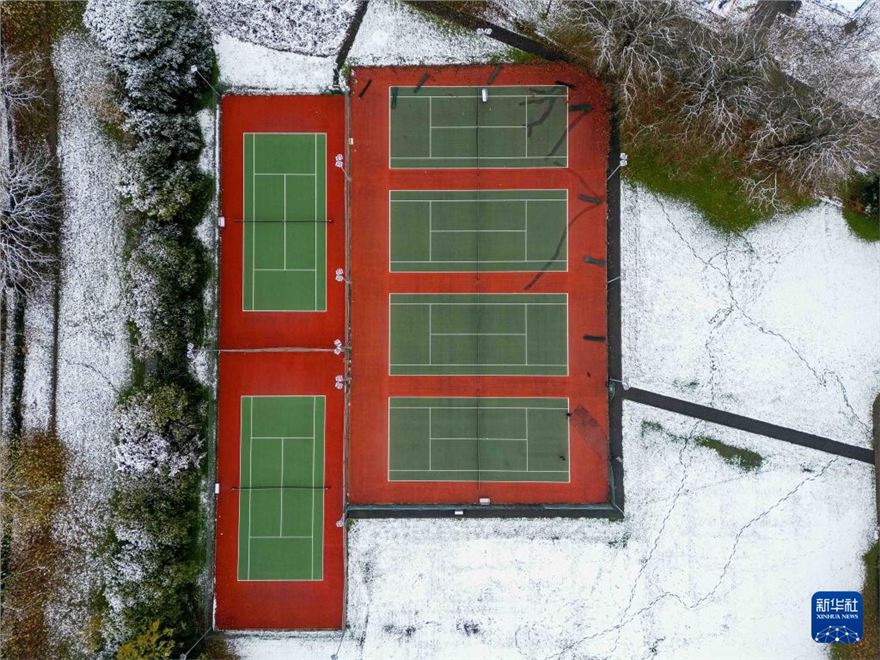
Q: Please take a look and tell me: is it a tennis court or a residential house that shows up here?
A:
tennis court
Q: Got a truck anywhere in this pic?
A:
No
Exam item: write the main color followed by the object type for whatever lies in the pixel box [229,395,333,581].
green tennis court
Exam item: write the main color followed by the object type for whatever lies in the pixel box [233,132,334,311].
green tennis court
